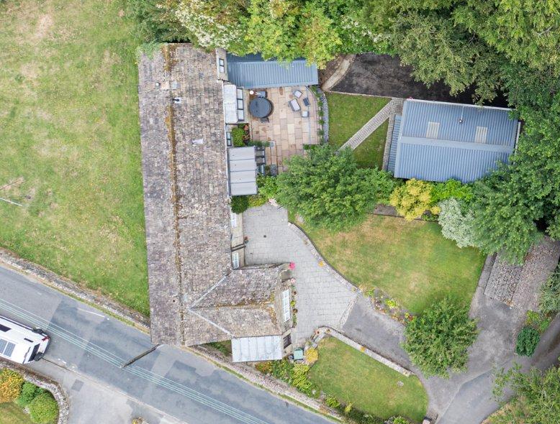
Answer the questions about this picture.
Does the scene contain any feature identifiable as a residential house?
Yes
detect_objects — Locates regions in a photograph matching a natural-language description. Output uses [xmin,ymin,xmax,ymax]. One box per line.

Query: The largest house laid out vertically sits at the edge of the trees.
[137,38,290,350]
